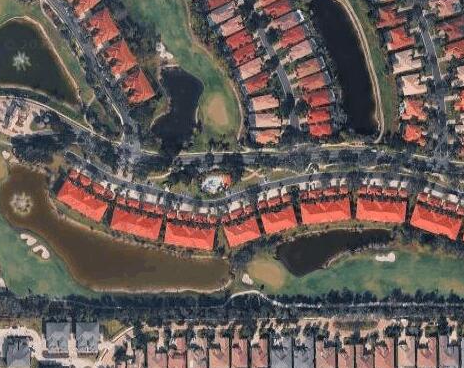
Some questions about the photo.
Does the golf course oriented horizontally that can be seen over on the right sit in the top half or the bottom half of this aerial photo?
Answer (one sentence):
The bottom half of the photo is where the golf course oriented horizontally that can be seen over on the right is.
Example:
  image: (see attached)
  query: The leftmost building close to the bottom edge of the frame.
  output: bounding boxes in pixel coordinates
[6,337,29,368]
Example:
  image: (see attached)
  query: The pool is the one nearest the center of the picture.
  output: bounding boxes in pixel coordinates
[202,174,222,191]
